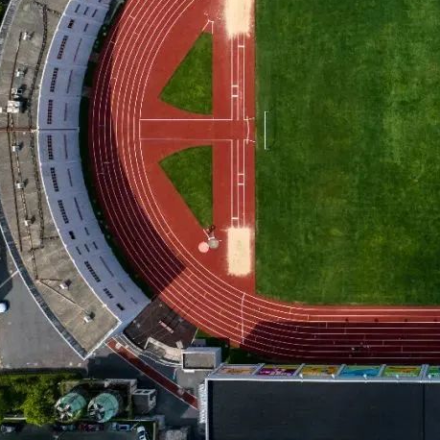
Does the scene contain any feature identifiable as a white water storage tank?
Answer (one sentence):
No, there is no white water storage tank in the image.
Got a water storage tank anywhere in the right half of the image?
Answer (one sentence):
No, there's no water storage tank to be seen in the right half of the image.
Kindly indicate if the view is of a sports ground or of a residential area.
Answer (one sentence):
The picture captures a sports ground.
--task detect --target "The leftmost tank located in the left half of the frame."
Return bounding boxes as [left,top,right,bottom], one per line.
[55,390,88,418]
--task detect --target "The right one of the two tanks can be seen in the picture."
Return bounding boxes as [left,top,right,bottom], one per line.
[86,390,119,419]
